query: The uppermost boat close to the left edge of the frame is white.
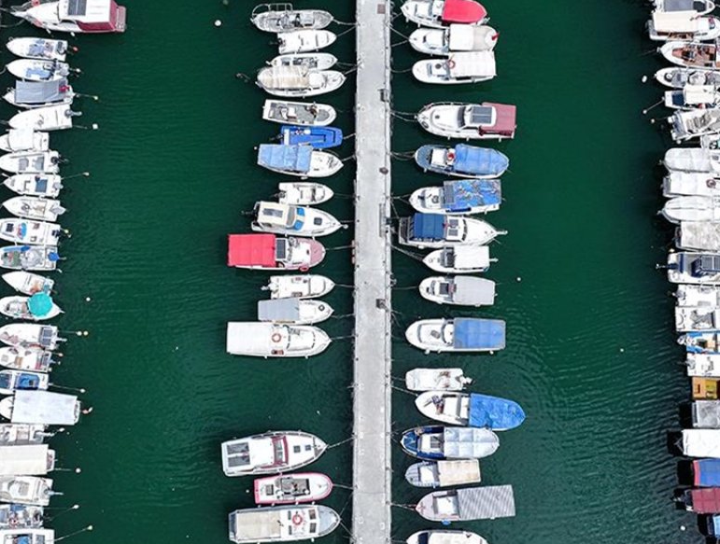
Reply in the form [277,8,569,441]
[0,0,130,37]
